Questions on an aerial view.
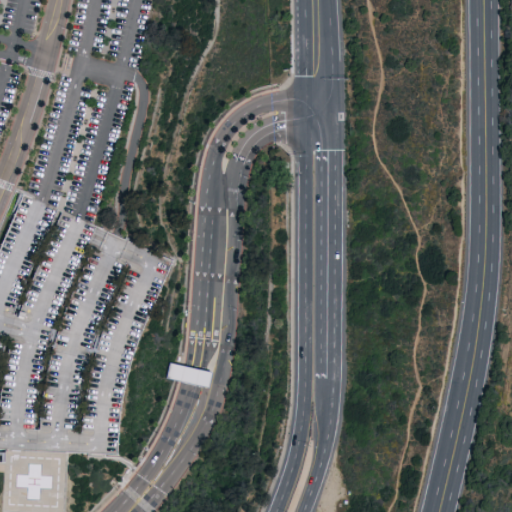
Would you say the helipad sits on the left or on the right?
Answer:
left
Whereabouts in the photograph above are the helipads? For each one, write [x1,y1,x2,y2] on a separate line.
[4,450,68,512]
